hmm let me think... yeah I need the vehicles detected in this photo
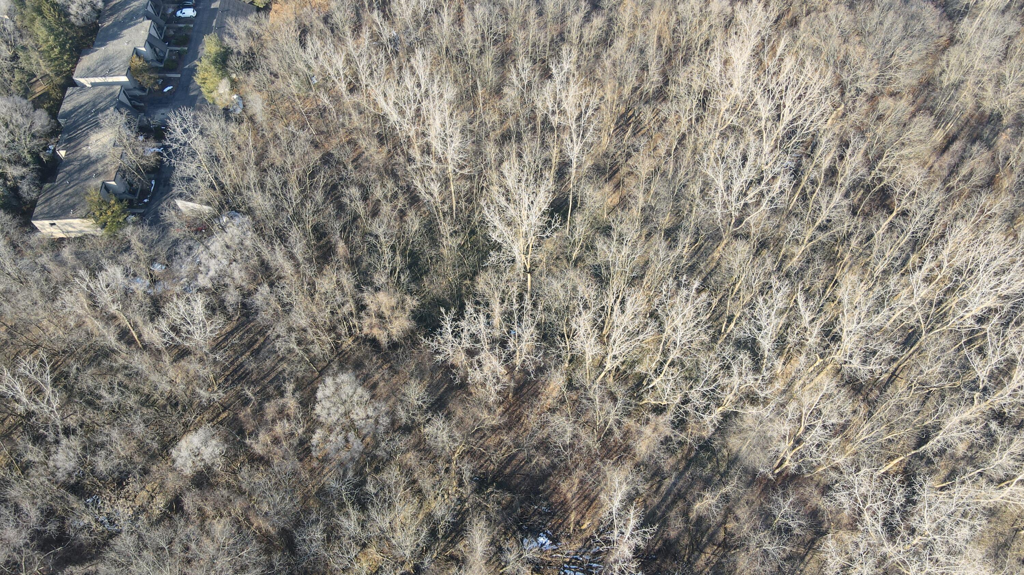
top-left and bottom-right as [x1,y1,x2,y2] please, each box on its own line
[177,0,198,6]
[175,8,197,19]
